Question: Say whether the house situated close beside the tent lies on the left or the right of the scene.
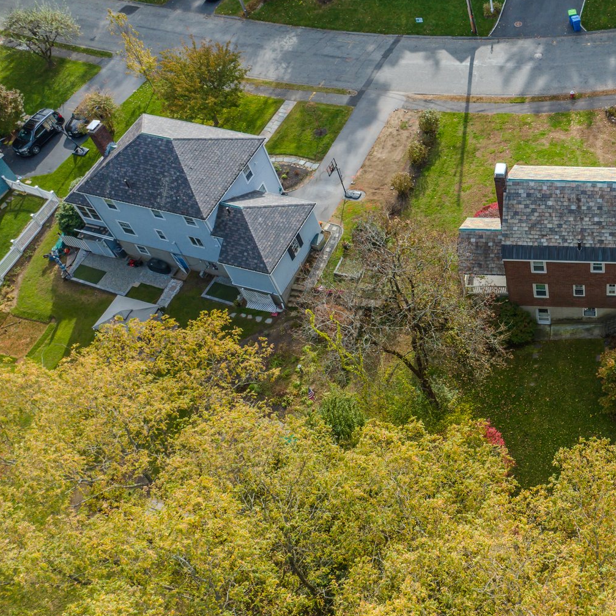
left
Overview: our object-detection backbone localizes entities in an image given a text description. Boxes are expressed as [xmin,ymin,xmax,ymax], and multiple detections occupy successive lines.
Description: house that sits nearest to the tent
[59,112,318,311]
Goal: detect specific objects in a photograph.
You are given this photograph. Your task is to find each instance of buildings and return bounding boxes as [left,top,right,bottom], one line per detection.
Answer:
[0,161,15,202]
[458,157,616,342]
[59,112,318,311]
